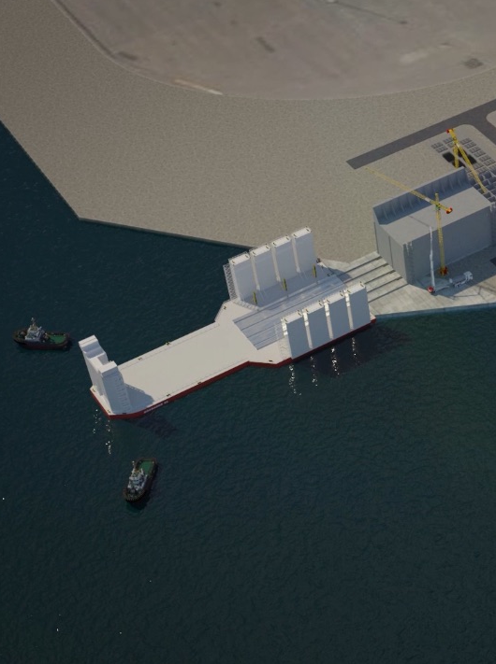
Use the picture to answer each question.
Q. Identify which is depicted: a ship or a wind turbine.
ship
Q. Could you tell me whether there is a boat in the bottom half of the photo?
Yes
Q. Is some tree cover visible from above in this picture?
No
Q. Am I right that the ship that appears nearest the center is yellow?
No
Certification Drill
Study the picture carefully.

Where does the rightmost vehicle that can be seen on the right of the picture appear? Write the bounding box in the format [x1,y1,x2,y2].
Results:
[450,273,471,286]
